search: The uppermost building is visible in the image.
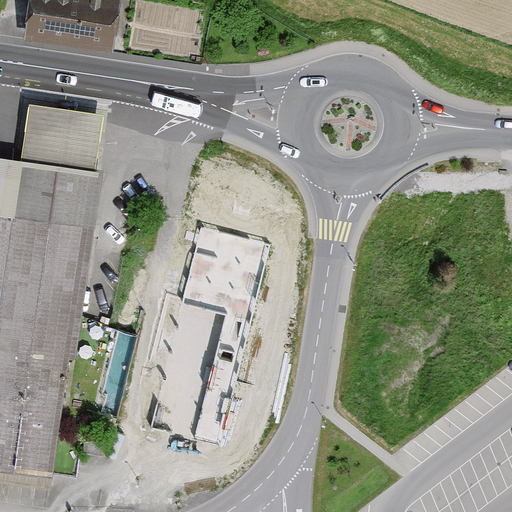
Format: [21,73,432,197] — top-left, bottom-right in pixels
[24,0,120,52]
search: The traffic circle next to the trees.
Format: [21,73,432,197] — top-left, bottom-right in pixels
[256,54,424,198]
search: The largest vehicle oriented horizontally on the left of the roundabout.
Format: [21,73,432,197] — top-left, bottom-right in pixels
[152,92,205,118]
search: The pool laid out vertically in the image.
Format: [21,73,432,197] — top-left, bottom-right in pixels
[101,326,137,418]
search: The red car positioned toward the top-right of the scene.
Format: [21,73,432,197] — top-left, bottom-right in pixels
[422,101,444,114]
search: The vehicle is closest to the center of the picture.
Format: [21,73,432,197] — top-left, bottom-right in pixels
[280,144,300,157]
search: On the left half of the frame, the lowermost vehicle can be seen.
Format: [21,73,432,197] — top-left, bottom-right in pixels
[172,440,201,453]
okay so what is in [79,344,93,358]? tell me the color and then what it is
white umbrella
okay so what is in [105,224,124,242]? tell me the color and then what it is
white car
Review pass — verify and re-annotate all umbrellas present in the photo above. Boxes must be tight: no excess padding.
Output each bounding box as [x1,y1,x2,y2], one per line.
[79,344,93,358]
[90,325,104,339]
